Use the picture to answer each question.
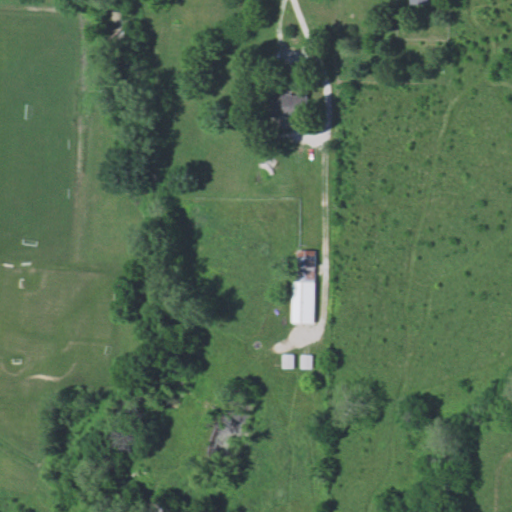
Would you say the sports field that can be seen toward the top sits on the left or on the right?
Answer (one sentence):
It is on the left.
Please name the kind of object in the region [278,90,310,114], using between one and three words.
house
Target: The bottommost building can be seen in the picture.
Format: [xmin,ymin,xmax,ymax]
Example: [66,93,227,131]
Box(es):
[212,418,244,452]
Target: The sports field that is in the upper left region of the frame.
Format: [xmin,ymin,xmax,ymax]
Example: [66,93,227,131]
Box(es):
[0,7,81,262]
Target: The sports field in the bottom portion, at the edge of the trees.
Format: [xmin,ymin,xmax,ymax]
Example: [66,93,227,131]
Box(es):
[0,272,112,392]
